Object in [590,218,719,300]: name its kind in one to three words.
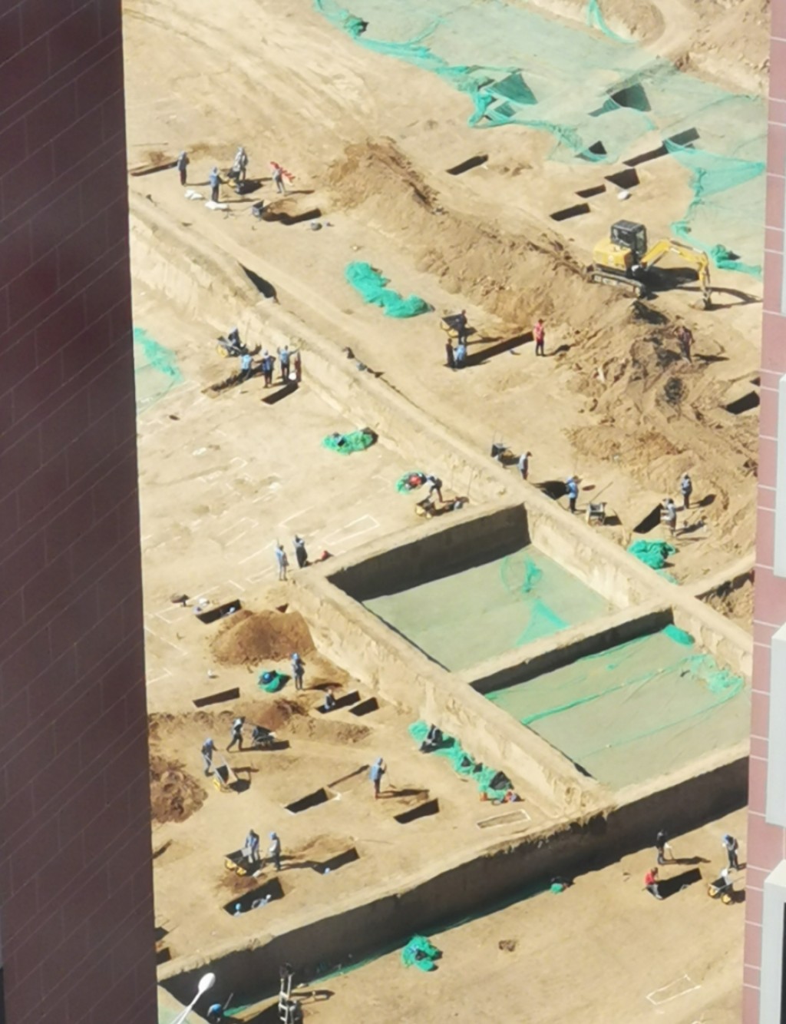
work vehicle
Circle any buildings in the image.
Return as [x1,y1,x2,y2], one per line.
[742,0,786,1024]
[0,0,157,1024]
